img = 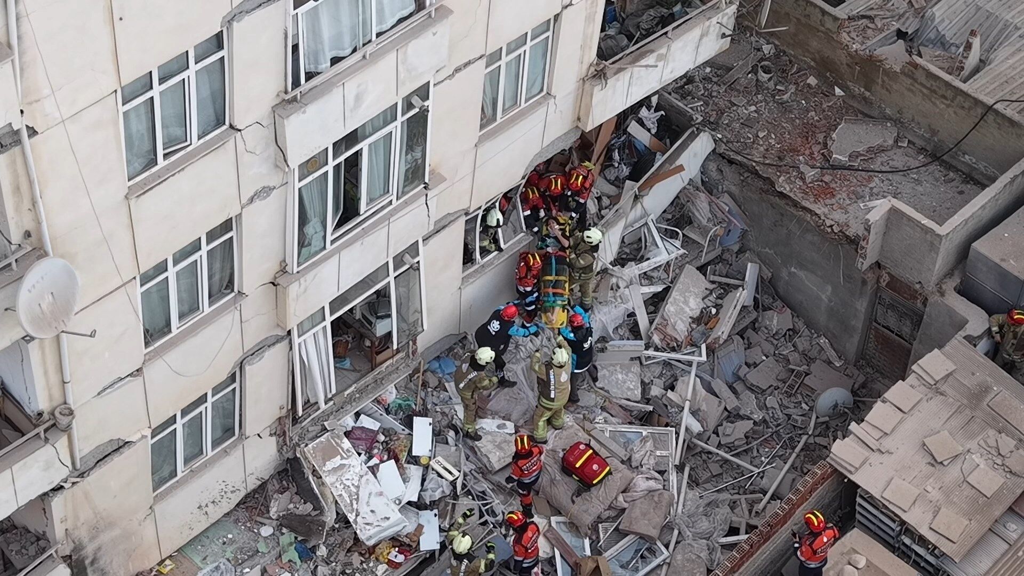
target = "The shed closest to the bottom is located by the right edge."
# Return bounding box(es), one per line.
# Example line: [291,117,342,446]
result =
[828,315,1024,576]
